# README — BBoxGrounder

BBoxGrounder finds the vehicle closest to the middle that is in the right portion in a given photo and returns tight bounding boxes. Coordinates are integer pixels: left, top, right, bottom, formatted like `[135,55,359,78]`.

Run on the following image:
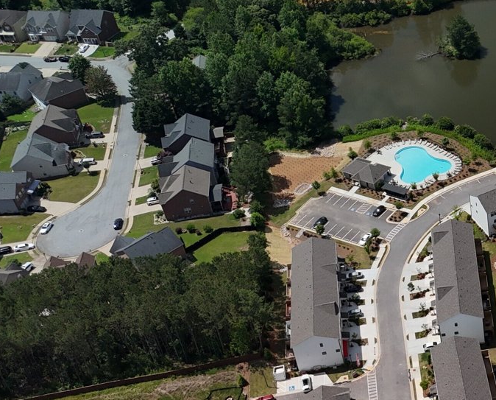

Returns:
[312,216,327,228]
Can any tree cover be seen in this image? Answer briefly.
Yes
